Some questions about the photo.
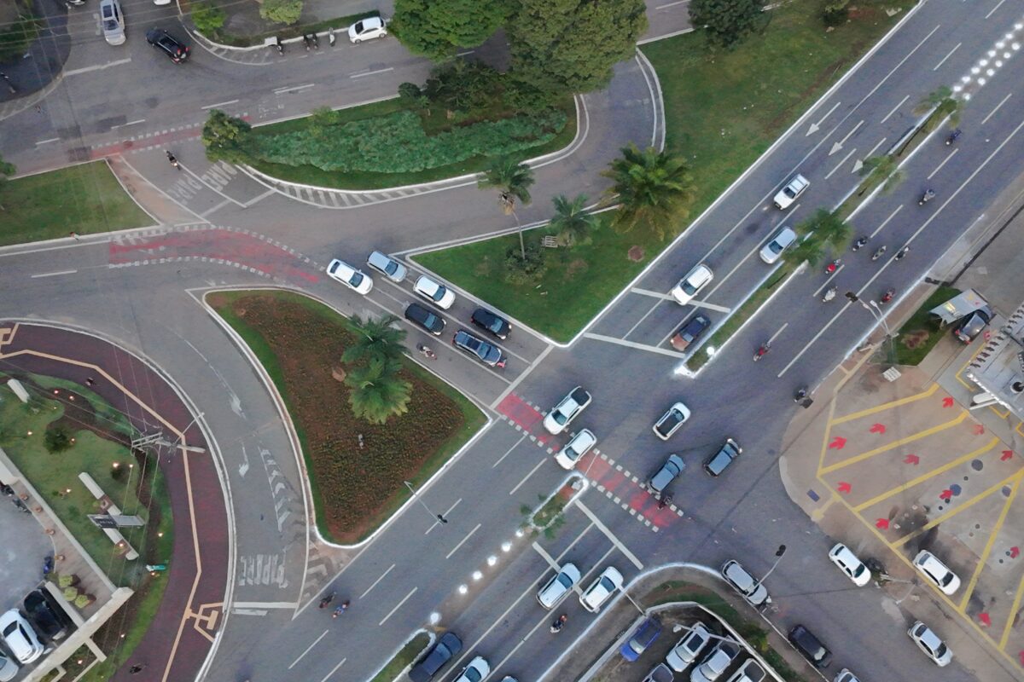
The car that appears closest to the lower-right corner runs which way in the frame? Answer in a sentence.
From this overhead view, the car that appears closest to the lower-right corner appears to run diagonally.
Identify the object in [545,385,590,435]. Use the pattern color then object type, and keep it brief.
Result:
white car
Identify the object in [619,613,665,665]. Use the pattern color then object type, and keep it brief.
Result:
blue truck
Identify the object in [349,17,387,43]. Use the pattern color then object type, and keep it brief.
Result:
white car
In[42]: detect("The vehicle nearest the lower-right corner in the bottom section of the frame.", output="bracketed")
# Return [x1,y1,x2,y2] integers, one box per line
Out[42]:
[902,617,954,670]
